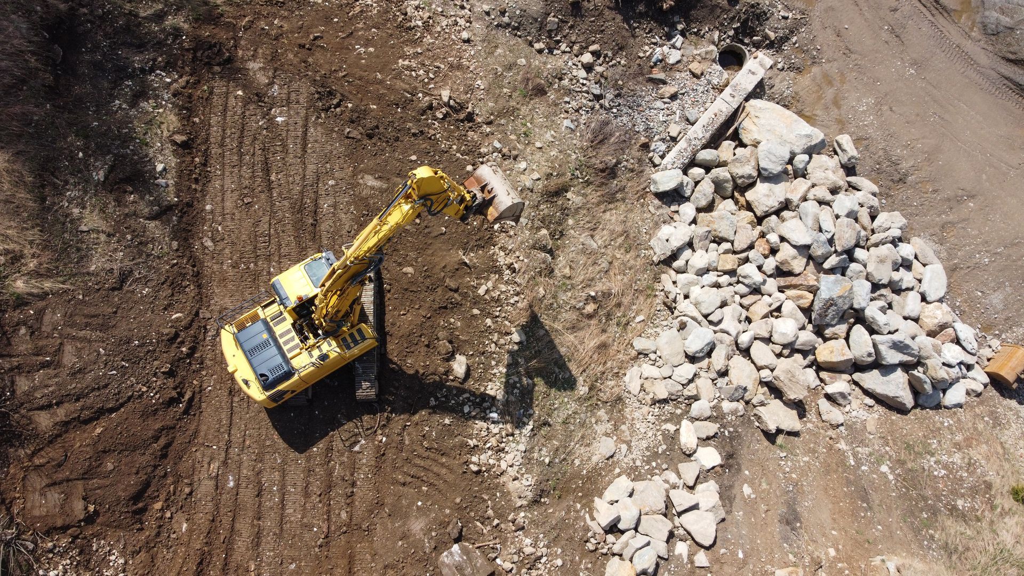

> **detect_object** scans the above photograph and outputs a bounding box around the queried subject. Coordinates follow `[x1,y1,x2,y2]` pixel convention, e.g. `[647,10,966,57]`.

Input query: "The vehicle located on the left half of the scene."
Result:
[214,156,530,405]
